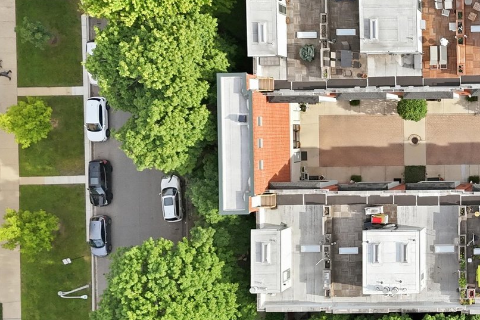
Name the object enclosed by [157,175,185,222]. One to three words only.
car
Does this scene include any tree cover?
Yes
